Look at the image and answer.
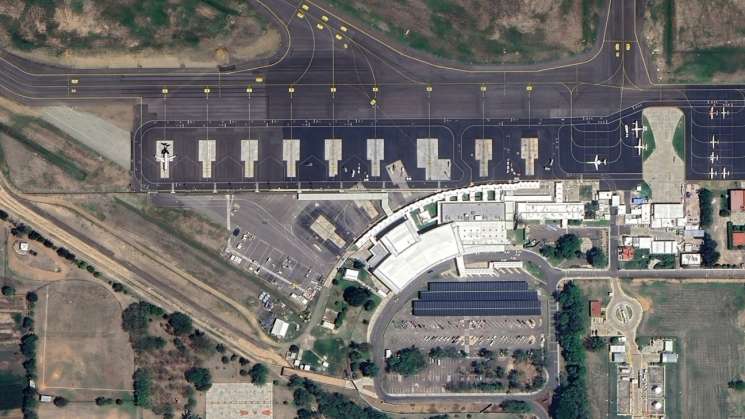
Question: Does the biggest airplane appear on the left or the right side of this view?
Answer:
left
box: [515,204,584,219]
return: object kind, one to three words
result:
building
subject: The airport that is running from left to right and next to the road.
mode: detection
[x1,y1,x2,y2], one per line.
[0,0,745,299]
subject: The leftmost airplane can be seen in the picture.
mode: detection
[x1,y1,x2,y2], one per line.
[156,142,177,170]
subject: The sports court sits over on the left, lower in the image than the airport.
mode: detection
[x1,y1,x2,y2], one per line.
[207,383,273,419]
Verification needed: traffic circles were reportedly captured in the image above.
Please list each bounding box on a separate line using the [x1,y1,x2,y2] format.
[606,277,643,350]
